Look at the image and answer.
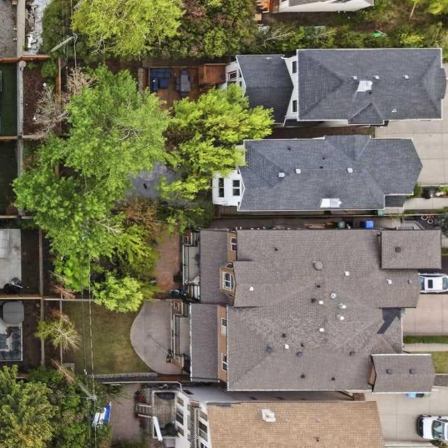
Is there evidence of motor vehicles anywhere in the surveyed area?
Yes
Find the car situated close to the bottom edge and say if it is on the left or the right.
right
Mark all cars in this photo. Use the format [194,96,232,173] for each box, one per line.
[421,271,448,295]
[415,416,448,442]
